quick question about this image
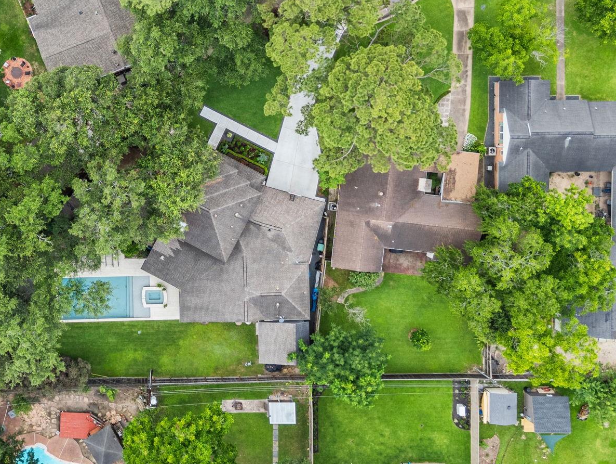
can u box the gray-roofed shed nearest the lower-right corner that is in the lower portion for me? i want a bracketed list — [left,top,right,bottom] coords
[521,391,570,433]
